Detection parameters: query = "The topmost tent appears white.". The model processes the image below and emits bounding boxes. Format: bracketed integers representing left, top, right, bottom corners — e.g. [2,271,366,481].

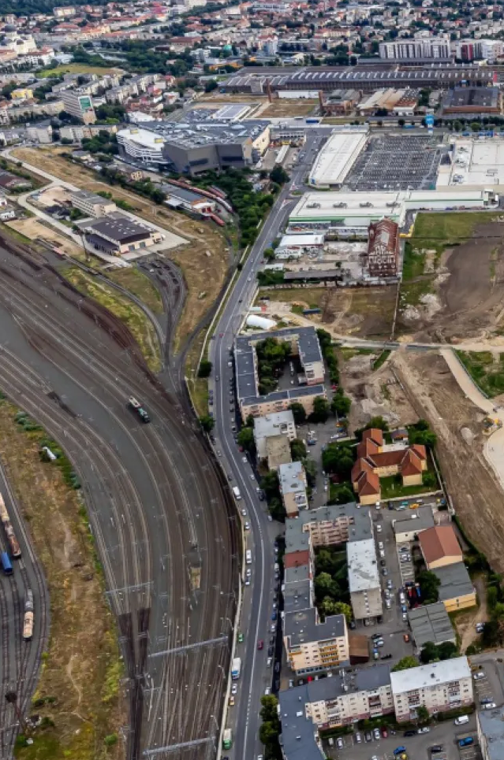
[246,310,279,328]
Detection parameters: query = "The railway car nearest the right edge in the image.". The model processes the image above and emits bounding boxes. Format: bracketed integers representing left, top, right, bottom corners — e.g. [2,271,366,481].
[131,398,146,415]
